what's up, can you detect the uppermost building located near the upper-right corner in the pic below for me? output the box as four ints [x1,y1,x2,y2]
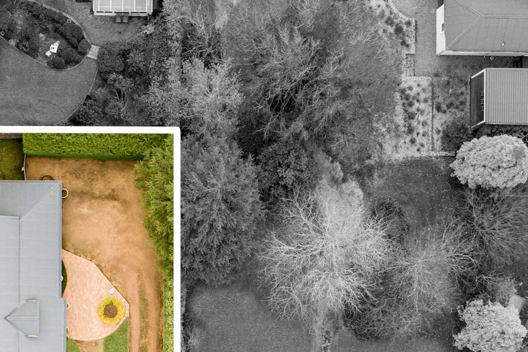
[430,0,528,59]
